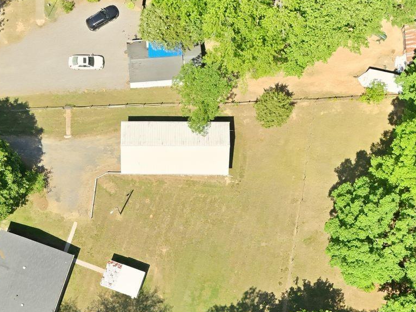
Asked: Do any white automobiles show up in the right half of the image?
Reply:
No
